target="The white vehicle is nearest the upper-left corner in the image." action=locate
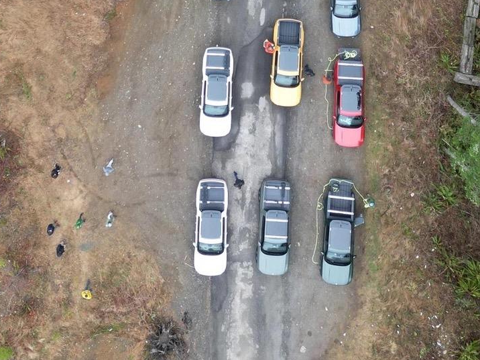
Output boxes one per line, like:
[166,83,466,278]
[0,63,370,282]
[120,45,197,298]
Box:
[198,47,235,136]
